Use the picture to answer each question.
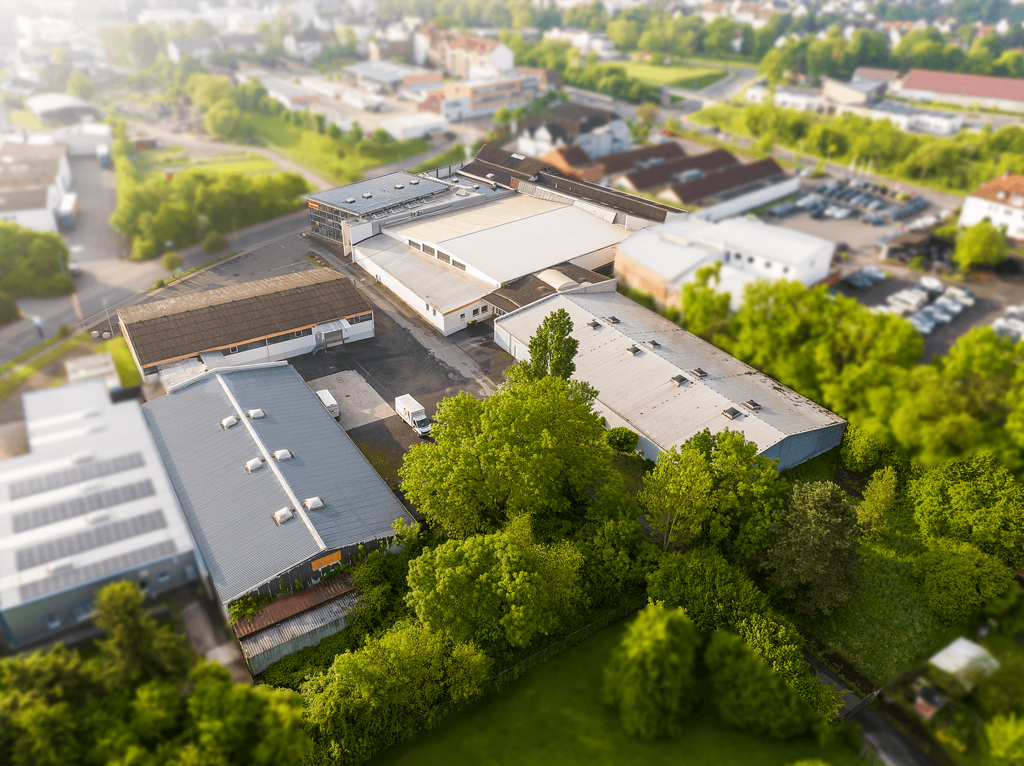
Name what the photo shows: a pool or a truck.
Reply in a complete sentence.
I can see a truck in this picture.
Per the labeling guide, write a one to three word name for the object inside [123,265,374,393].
building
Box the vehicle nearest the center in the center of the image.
[396,396,431,436]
